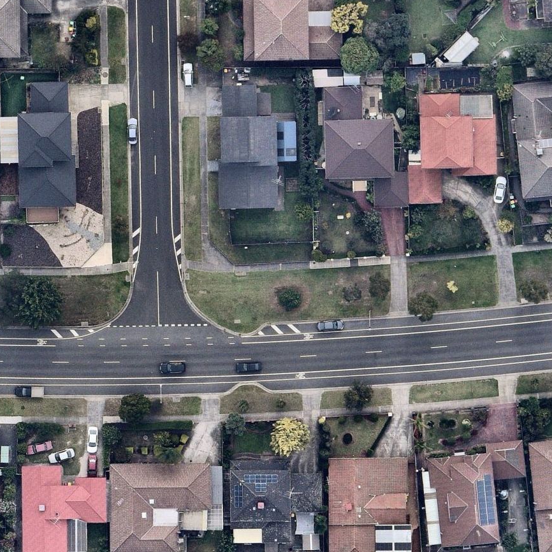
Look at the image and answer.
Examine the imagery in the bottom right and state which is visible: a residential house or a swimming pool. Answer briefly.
residential house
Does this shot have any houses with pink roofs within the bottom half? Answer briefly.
Yes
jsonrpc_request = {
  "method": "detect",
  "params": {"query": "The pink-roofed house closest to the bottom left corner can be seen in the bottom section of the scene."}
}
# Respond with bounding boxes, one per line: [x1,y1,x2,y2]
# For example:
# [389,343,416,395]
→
[20,466,106,552]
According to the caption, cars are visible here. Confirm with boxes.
[235,362,262,373]
[26,441,53,455]
[48,448,75,464]
[86,427,98,453]
[493,177,507,203]
[127,118,139,145]
[86,454,98,478]
[317,319,343,331]
[159,362,185,374]
[182,63,192,87]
